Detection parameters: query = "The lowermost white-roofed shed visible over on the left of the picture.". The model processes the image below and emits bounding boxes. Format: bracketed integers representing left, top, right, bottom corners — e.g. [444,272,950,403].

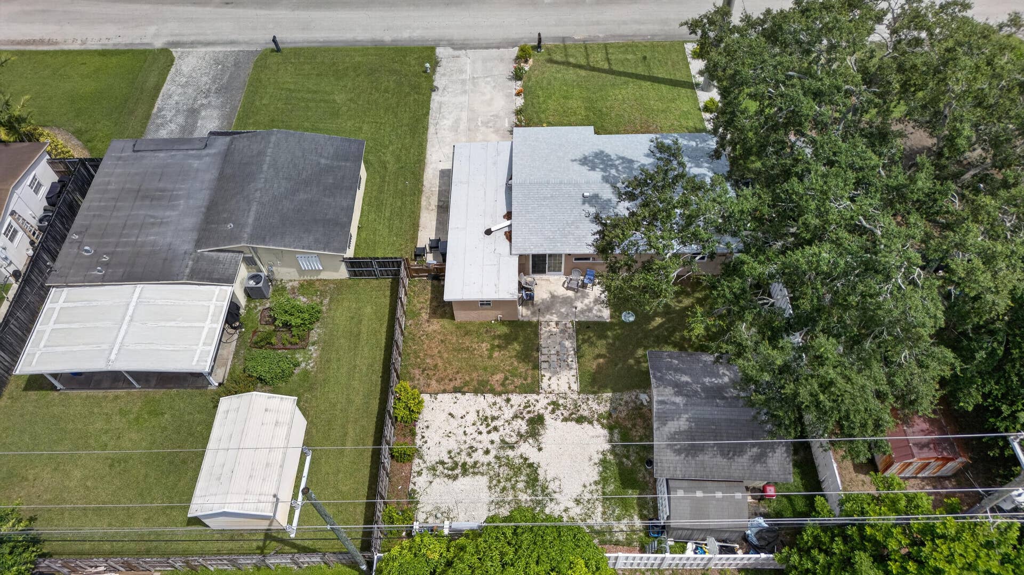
[186,391,306,528]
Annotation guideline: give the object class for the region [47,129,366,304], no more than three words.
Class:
house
